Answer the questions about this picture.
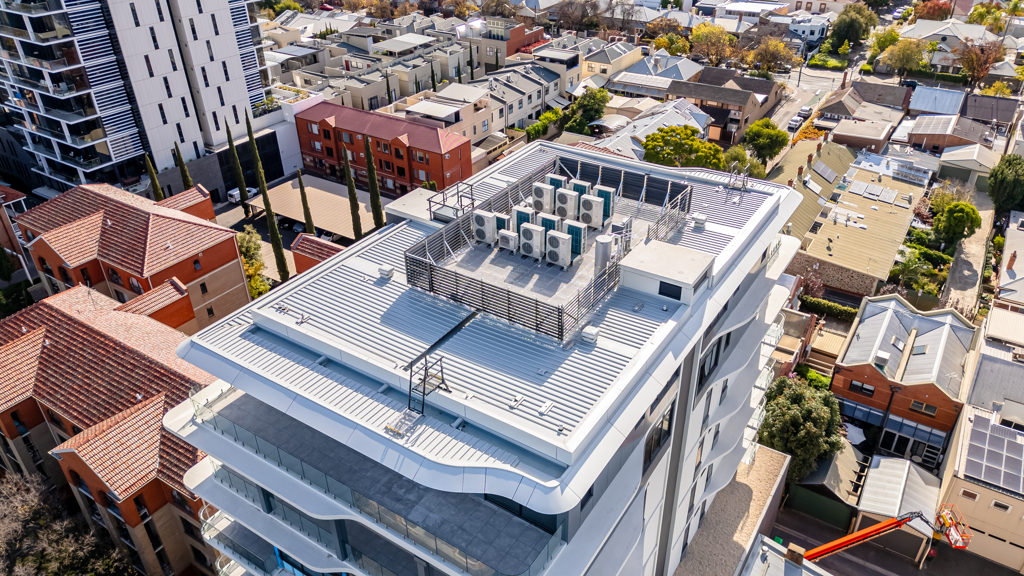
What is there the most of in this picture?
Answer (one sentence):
Most of the picture is covered by buildings.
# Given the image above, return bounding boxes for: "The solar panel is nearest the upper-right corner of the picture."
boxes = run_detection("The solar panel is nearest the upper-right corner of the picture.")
[910,116,955,137]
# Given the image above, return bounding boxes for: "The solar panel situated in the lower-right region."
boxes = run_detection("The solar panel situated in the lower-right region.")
[965,415,1024,498]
